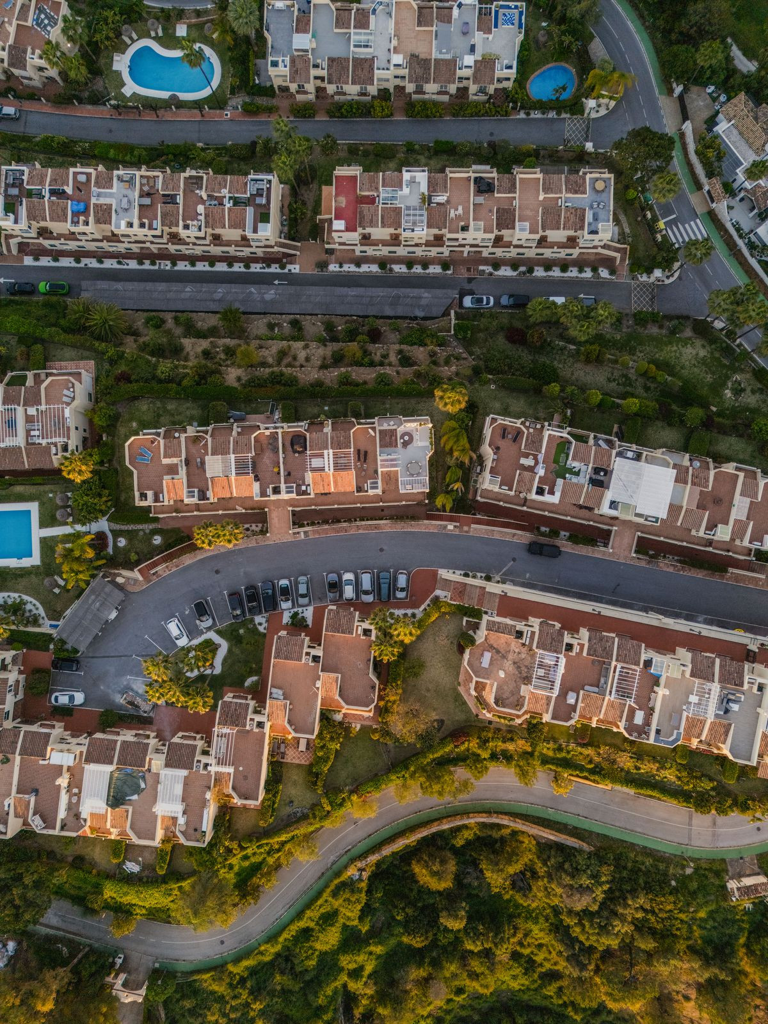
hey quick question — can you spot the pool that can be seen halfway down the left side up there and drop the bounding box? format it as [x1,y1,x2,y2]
[0,502,40,567]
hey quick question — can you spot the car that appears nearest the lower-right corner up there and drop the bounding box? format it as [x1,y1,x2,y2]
[527,541,561,557]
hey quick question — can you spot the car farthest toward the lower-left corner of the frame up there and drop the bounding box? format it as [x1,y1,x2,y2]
[51,691,85,706]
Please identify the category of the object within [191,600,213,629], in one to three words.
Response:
car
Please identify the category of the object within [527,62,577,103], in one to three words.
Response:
swimming pool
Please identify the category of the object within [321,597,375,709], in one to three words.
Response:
house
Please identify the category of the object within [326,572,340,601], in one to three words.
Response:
car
